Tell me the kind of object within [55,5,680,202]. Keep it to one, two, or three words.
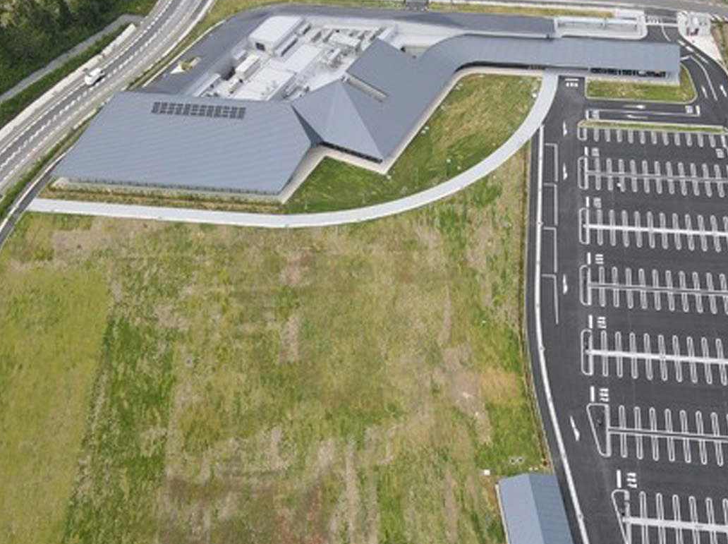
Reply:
building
